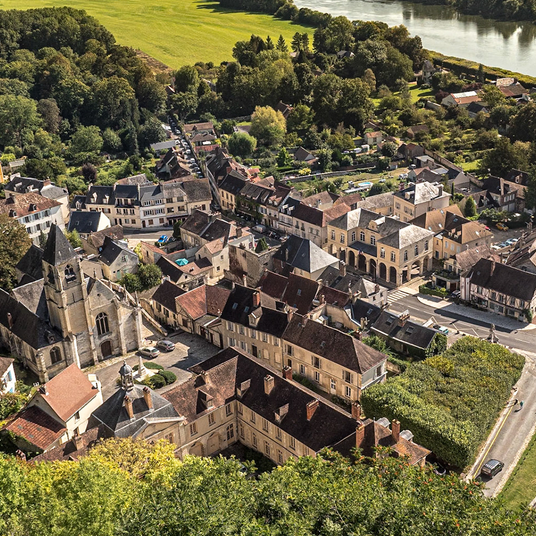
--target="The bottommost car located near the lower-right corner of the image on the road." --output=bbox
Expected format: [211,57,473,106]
[480,456,504,479]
